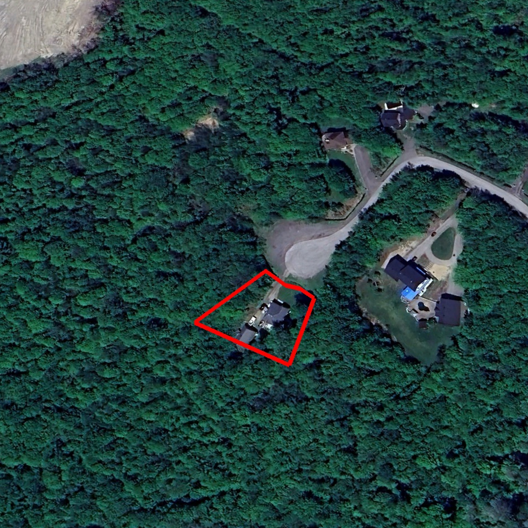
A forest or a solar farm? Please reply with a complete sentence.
The area seen from above is a forest.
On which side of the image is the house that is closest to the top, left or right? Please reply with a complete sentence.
You can find the house that is closest to the top on the right side of the picture.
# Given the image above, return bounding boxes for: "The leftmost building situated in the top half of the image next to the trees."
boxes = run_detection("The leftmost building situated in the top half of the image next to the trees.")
[323,130,356,154]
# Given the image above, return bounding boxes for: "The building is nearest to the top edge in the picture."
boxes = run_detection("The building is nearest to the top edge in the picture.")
[381,101,417,131]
